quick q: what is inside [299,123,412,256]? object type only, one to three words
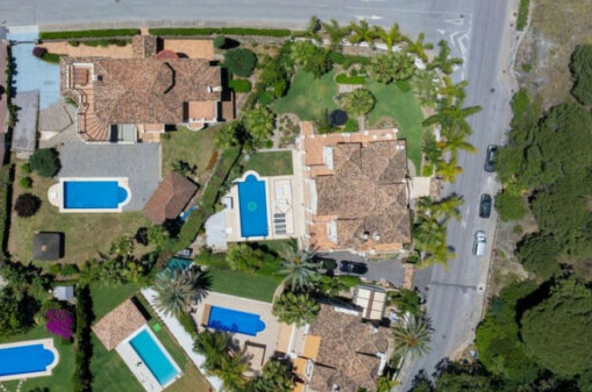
house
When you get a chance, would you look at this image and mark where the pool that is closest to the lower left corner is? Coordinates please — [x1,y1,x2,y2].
[0,338,59,380]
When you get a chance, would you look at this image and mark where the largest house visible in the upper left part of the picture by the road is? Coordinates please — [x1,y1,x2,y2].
[60,34,234,144]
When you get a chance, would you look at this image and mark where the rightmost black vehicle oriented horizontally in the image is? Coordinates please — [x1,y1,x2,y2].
[340,262,368,275]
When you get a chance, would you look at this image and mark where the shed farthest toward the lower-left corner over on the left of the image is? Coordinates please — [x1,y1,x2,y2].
[54,287,73,304]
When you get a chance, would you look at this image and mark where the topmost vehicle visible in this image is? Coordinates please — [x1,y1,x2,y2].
[482,144,498,172]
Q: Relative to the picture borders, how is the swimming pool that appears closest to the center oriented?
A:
vertically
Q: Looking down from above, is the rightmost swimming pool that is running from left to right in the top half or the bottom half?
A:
bottom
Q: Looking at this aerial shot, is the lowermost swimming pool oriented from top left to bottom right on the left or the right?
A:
left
